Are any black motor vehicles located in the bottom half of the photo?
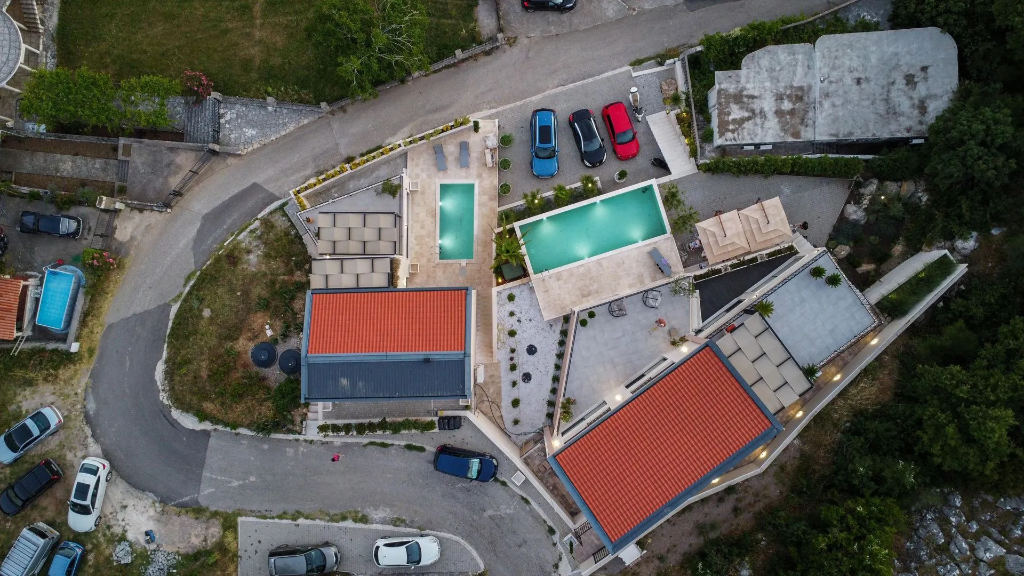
Yes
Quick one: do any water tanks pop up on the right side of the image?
No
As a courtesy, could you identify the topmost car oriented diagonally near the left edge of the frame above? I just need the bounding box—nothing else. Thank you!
[0,405,68,459]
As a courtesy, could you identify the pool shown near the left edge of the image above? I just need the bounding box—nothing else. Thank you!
[35,265,88,330]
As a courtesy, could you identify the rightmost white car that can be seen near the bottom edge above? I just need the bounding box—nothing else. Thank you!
[373,532,442,568]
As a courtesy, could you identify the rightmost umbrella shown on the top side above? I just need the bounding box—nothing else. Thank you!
[735,197,793,252]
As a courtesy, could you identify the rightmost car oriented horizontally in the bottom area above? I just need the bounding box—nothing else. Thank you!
[433,446,499,485]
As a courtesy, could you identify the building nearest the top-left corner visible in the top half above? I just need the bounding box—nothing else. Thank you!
[97,195,142,214]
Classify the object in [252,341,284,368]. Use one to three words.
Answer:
water tank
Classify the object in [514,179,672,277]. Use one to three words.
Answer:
swimming pool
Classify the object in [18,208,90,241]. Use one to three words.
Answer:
car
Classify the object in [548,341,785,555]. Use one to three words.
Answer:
house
